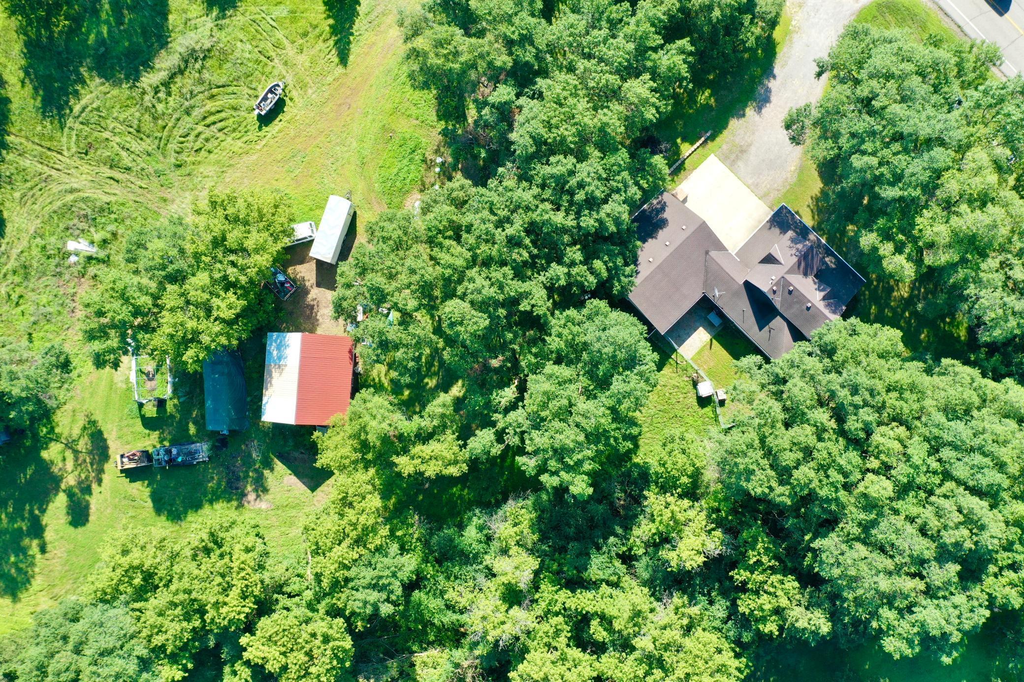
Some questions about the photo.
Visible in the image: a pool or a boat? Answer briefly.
boat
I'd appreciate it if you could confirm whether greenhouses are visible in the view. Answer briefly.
Yes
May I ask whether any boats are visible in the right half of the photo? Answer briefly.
No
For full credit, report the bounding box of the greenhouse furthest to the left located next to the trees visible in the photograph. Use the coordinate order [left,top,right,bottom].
[131,355,179,404]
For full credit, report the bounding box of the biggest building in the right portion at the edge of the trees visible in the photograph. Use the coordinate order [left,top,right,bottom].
[596,191,867,354]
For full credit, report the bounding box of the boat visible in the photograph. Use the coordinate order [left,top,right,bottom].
[252,78,284,121]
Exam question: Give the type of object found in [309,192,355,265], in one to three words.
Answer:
trailer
